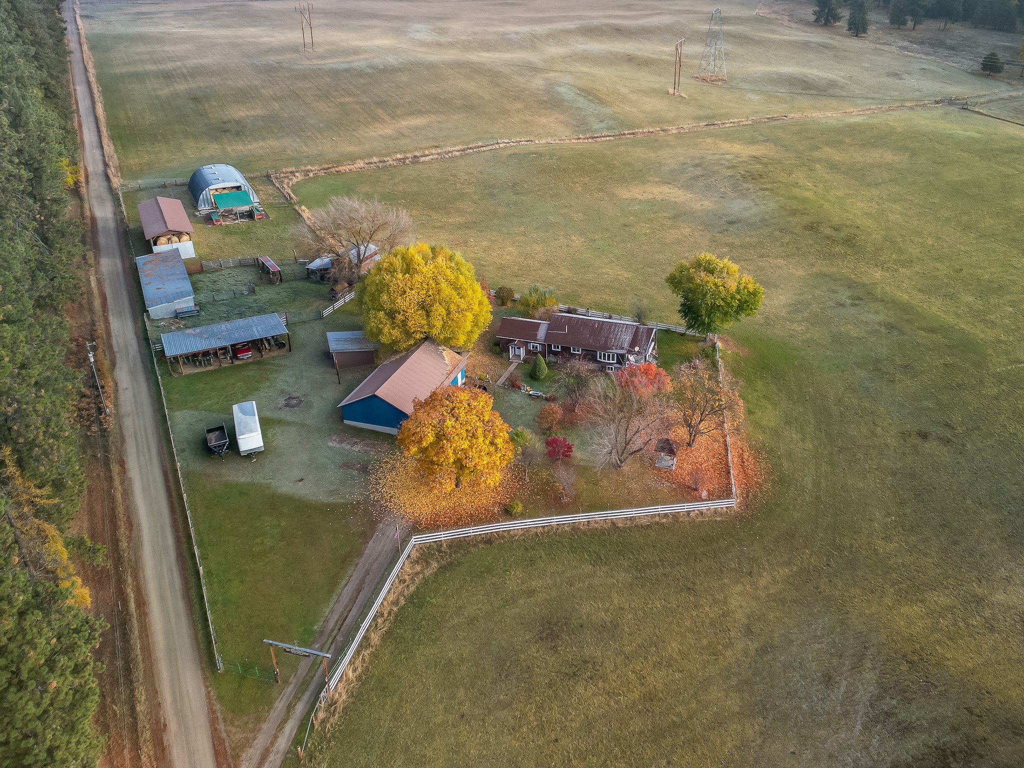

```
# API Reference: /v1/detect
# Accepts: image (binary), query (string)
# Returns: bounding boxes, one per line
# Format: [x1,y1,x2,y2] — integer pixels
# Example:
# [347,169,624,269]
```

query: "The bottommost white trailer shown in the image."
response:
[233,401,264,461]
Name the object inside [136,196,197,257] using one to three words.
barn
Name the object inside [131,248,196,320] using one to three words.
shed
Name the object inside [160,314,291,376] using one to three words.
shed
